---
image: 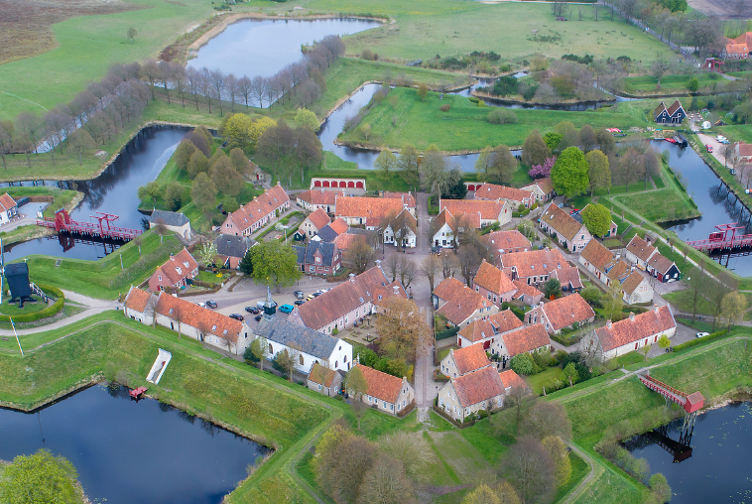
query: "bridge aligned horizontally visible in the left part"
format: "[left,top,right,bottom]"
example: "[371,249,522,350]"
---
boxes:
[35,205,143,242]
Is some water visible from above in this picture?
Yes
